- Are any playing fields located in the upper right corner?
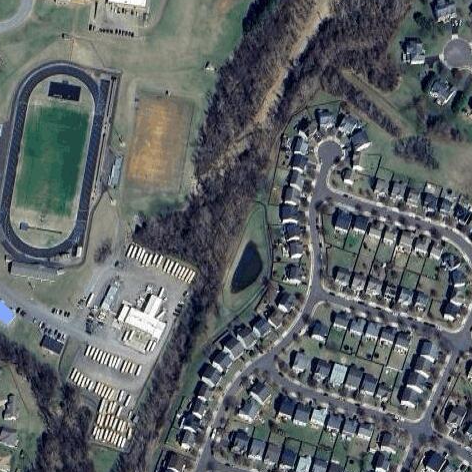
No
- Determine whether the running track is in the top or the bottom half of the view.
top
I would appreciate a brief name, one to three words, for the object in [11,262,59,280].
shed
